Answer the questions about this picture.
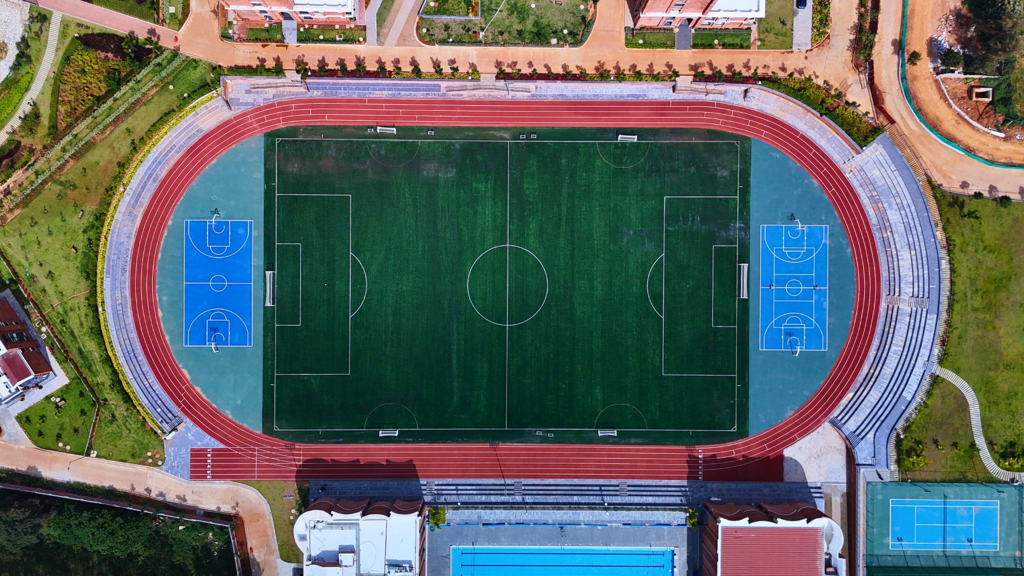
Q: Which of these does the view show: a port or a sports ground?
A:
sports ground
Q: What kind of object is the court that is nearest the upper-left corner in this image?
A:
basketball court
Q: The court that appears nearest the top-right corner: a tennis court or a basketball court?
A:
basketball court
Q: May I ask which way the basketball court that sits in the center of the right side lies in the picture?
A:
from top to bottom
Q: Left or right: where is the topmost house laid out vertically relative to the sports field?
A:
to its left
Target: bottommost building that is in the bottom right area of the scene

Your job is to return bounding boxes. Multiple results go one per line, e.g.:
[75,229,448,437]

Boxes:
[704,503,846,576]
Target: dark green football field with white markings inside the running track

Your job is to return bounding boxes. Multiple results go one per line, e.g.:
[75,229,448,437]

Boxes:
[263,124,750,445]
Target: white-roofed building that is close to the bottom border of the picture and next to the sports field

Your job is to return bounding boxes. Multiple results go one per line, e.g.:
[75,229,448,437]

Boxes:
[294,496,427,576]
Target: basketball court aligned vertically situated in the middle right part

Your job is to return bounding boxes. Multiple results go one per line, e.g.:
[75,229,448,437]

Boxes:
[750,134,858,437]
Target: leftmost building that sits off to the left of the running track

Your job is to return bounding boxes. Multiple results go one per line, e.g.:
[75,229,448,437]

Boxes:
[0,288,55,410]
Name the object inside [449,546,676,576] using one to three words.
swimming pool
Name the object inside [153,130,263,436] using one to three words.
basketball court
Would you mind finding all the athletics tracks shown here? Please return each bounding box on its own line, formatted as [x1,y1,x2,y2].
[129,98,881,481]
